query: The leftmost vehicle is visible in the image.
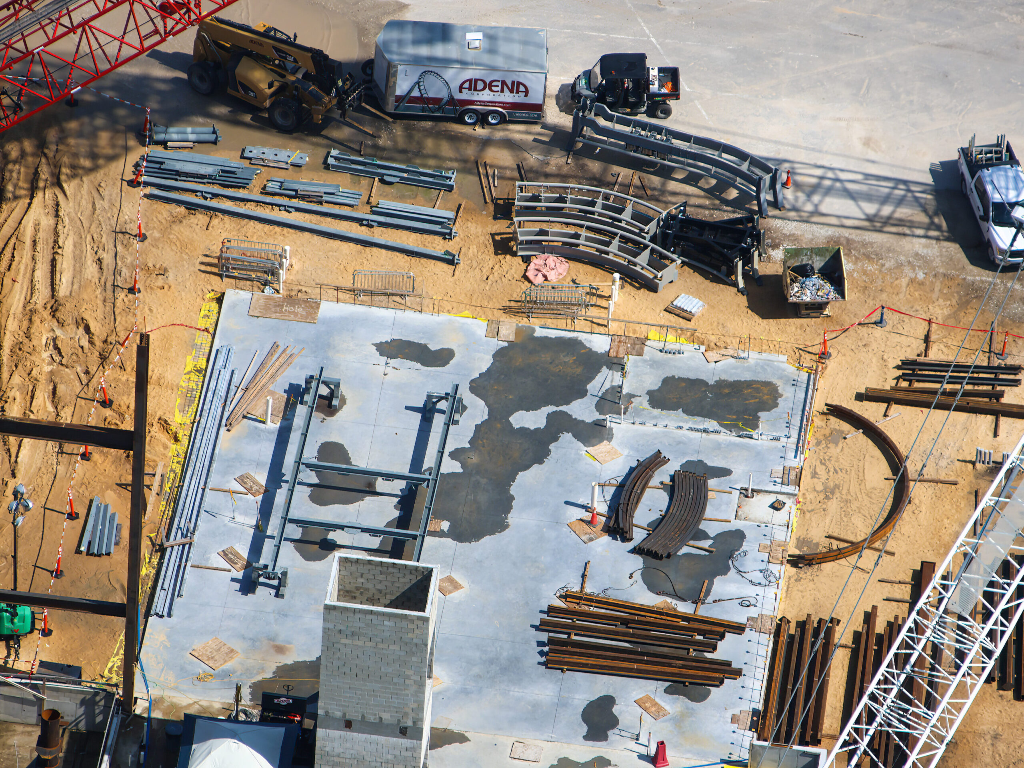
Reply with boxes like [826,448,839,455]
[176,10,382,154]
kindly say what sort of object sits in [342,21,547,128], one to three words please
trailer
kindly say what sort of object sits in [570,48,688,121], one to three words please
vehicle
